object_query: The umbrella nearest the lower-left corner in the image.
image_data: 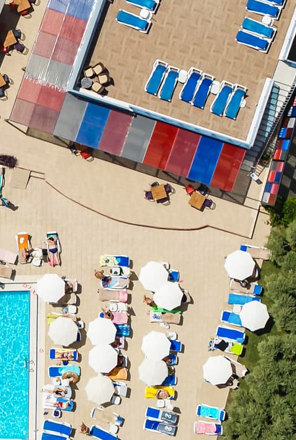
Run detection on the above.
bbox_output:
[83,373,113,403]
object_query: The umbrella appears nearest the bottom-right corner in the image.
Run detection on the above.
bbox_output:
[201,355,232,386]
